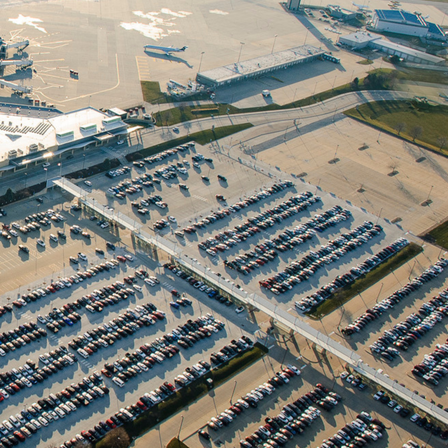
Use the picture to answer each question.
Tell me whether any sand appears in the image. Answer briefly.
No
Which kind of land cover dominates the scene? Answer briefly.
paved ground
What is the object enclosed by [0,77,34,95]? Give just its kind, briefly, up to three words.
jet bridge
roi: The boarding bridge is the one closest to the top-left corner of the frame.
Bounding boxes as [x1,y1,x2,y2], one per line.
[2,39,32,52]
